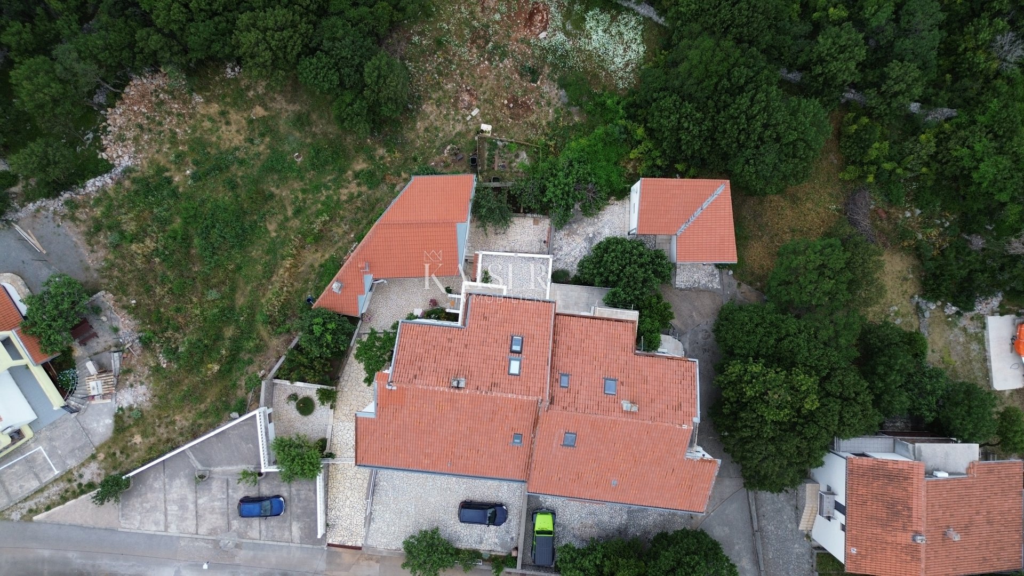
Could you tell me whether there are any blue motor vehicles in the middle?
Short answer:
No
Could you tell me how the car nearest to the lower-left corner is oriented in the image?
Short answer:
from left to right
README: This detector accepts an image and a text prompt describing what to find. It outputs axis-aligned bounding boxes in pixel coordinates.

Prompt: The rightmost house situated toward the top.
[629,177,739,267]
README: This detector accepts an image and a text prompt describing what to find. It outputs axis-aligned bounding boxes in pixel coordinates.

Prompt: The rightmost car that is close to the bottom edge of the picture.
[530,512,557,569]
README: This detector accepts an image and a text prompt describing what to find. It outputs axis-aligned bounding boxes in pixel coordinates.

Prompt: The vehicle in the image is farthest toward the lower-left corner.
[235,493,287,520]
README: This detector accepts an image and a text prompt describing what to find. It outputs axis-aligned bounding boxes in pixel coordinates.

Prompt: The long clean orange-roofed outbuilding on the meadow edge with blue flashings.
[313,173,477,319]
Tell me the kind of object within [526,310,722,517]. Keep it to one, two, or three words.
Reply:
house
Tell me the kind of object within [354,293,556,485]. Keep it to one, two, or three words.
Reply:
house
